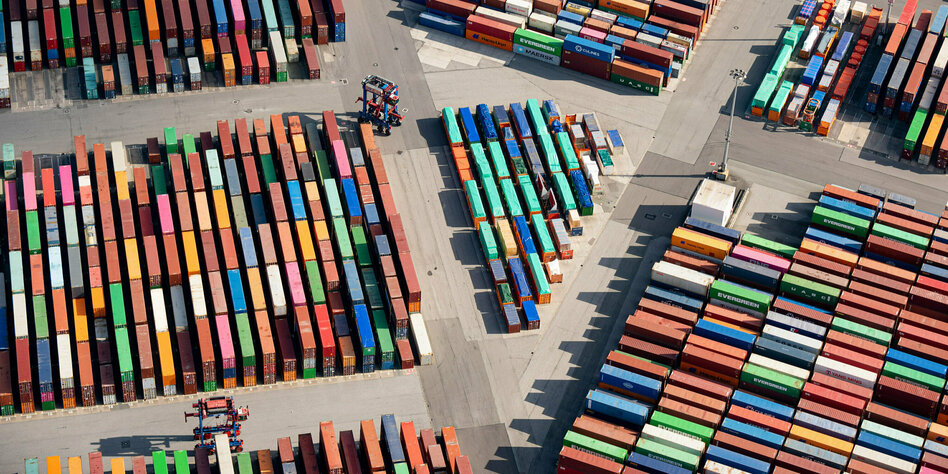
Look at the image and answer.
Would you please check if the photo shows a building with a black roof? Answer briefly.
No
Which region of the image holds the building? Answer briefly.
right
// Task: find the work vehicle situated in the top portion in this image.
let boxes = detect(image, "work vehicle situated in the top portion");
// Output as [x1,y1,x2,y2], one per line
[354,74,406,138]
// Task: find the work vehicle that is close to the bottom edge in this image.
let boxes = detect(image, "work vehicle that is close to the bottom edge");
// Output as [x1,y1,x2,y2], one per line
[177,394,251,453]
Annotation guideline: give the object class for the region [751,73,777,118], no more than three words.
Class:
shipping container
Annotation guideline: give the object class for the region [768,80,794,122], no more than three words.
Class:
shipping container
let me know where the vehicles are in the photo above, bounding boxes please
[177,394,251,453]
[354,74,406,138]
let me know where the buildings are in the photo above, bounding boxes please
[692,179,736,229]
